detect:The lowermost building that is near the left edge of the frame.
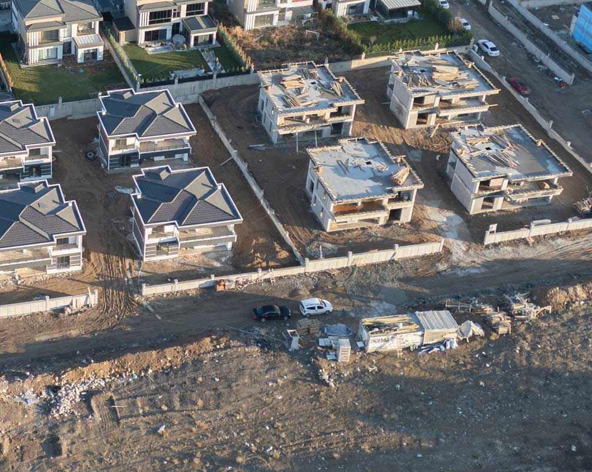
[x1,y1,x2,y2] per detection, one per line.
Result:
[0,177,83,276]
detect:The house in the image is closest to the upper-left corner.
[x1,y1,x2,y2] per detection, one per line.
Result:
[15,0,107,66]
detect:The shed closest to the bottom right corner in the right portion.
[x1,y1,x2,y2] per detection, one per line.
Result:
[414,300,466,340]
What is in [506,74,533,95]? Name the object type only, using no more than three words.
car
